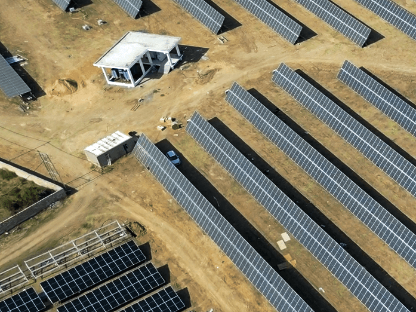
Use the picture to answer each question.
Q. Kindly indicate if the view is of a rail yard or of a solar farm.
solar farm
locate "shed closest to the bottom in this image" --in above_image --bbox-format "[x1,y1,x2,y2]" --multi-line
[84,130,134,168]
